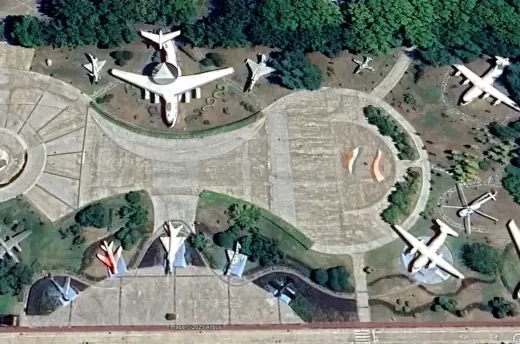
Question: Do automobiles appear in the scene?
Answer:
No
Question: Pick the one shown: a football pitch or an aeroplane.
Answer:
aeroplane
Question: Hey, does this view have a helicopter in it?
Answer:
Yes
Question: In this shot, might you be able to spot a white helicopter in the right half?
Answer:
Yes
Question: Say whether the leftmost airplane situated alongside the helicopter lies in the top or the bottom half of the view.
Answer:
bottom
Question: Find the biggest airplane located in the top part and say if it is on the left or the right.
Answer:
left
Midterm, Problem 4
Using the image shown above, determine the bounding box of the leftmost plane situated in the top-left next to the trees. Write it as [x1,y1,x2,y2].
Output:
[81,53,105,84]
